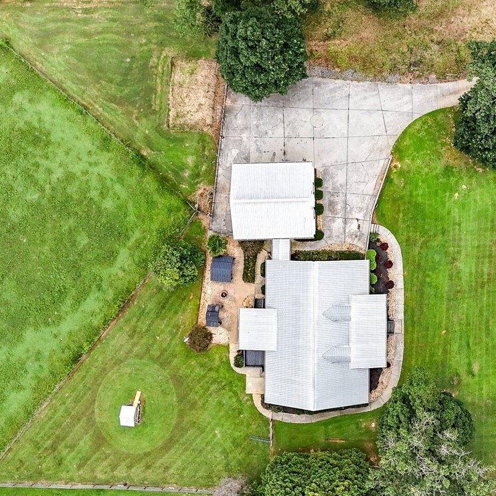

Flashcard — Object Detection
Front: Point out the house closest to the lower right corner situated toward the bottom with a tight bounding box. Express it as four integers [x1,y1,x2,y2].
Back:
[238,260,388,411]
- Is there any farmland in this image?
Yes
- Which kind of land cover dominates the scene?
grass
